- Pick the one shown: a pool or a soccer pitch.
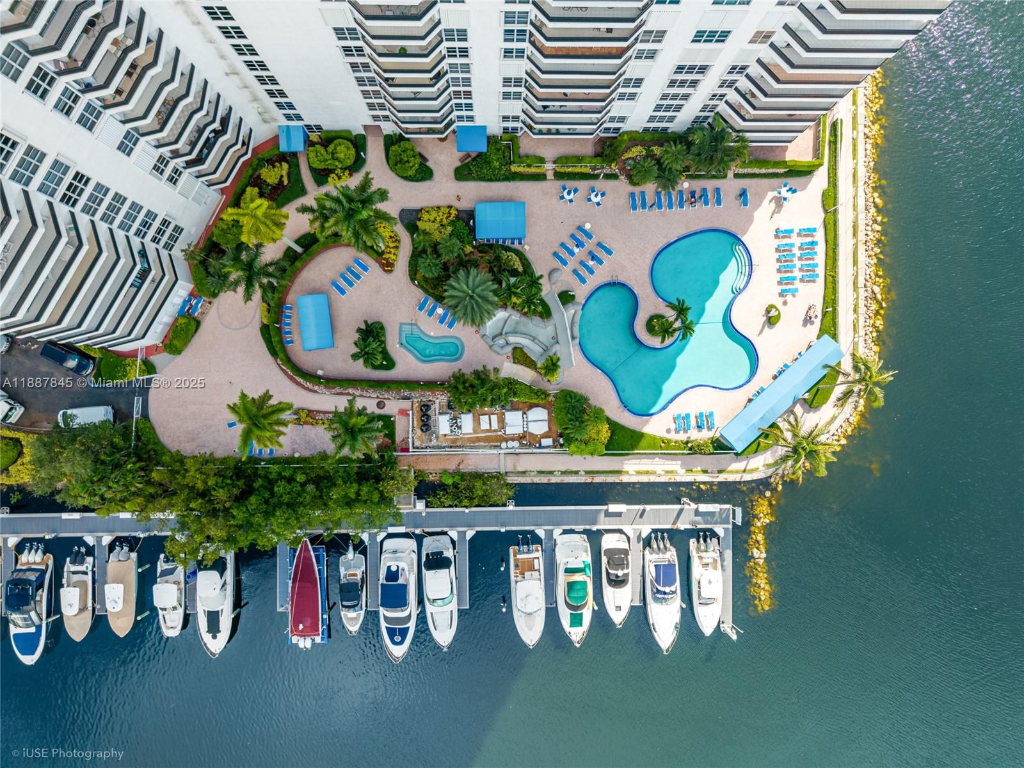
pool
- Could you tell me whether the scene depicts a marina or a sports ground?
marina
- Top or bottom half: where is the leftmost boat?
bottom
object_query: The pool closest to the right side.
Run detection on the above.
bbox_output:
[577,225,763,419]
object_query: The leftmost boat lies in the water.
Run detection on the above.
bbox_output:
[9,537,64,667]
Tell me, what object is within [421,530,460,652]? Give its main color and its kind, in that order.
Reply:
white boat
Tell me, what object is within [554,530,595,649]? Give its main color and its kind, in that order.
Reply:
white boat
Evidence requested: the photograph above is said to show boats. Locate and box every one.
[640,531,682,657]
[196,543,241,660]
[290,538,327,649]
[338,538,368,637]
[686,524,724,639]
[108,539,145,640]
[509,529,548,650]
[421,530,460,652]
[9,537,64,667]
[599,531,633,630]
[554,530,595,649]
[64,541,100,644]
[155,540,189,640]
[378,531,421,666]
